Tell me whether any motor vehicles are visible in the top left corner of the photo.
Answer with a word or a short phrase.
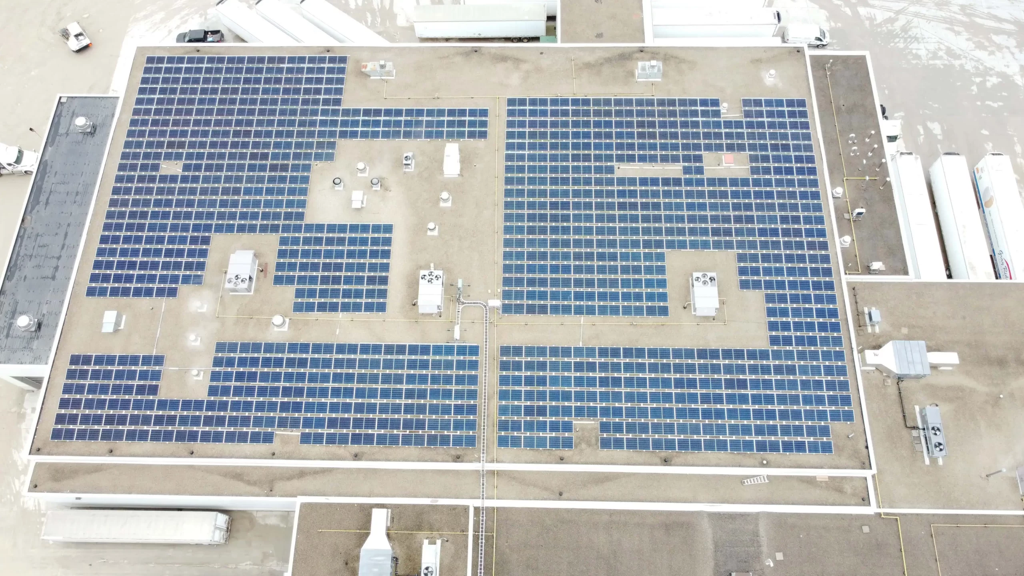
Yes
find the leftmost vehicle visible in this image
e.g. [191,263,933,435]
[0,141,39,172]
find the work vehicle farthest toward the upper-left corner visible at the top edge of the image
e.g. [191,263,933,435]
[60,17,99,56]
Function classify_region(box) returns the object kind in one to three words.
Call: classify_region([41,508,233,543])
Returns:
trailer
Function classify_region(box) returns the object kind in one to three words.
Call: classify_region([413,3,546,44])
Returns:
trailer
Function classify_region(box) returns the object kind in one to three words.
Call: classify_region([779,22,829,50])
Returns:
van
